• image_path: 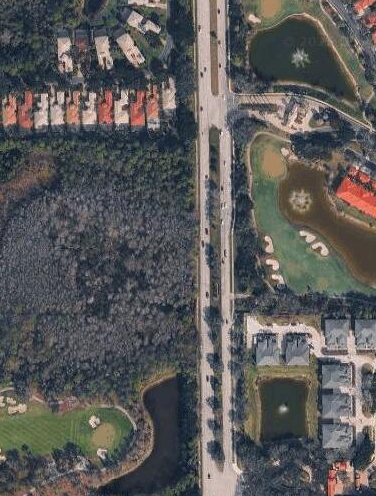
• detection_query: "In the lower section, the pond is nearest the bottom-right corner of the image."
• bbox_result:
[258,376,309,439]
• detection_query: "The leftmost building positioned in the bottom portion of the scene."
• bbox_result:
[255,335,279,366]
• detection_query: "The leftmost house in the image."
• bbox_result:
[1,96,16,132]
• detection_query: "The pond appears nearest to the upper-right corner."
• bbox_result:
[248,15,355,100]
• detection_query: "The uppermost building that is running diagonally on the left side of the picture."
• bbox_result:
[120,3,158,36]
